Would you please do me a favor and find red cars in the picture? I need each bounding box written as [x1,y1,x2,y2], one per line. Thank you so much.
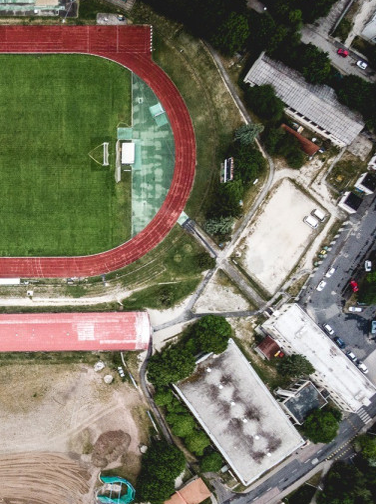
[336,48,349,57]
[350,281,358,292]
